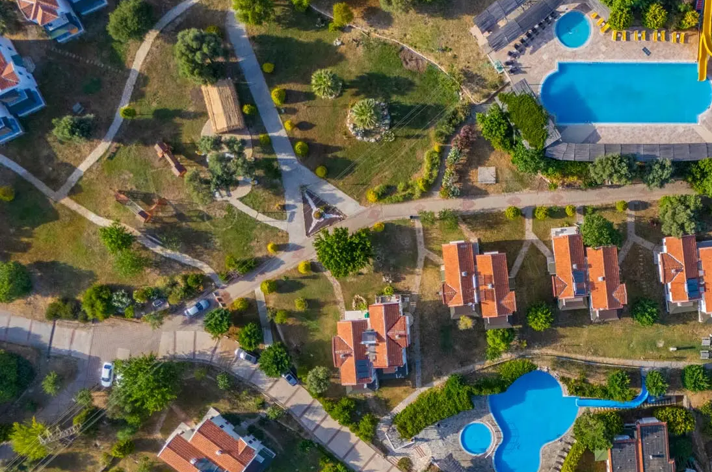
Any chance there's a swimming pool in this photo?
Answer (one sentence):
Yes, the picture does show a swimming pool.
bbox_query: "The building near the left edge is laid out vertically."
[0,30,50,139]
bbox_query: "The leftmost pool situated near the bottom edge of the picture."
[459,421,494,456]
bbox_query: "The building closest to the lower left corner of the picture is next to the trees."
[156,405,280,472]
